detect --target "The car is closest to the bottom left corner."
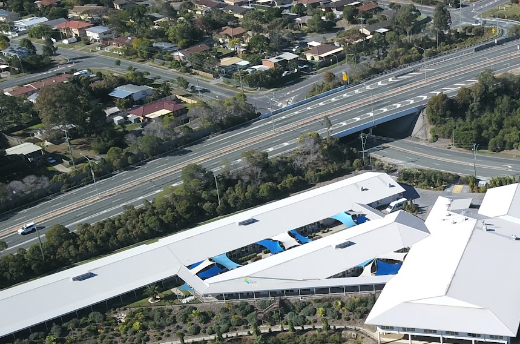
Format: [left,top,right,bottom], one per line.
[16,219,36,232]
